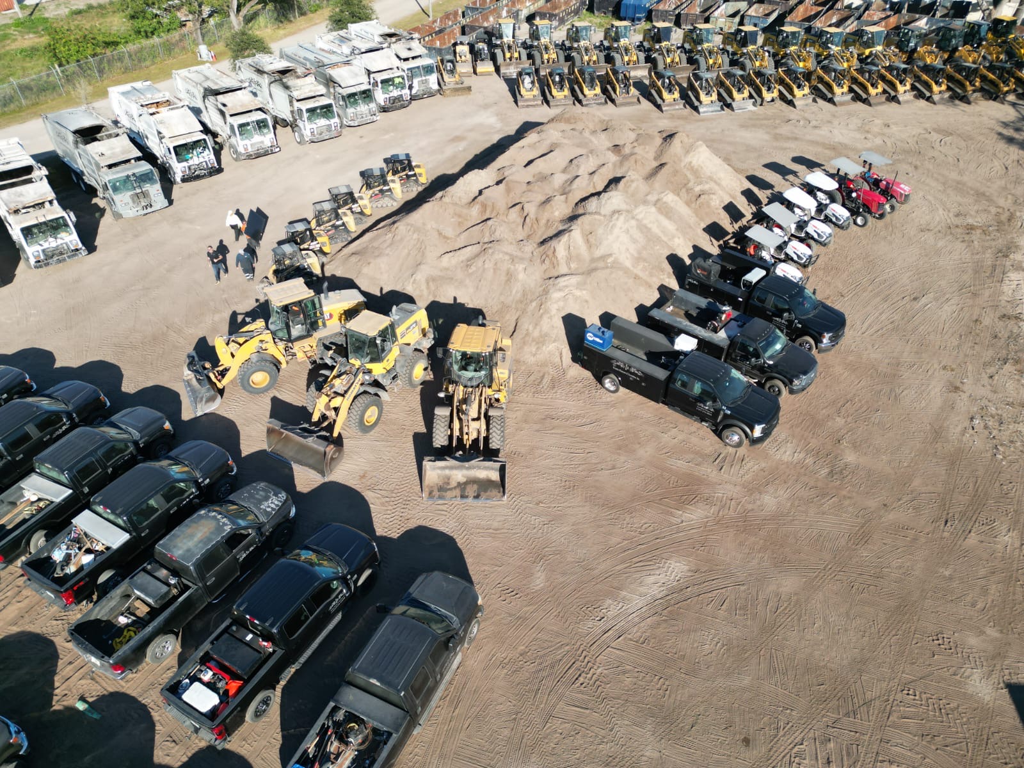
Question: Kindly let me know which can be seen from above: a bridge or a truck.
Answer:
truck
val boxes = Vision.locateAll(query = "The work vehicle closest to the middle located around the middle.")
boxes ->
[422,311,509,502]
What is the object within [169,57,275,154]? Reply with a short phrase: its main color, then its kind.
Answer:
white truck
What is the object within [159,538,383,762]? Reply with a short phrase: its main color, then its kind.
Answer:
black truck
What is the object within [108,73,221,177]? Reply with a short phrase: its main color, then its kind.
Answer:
white truck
